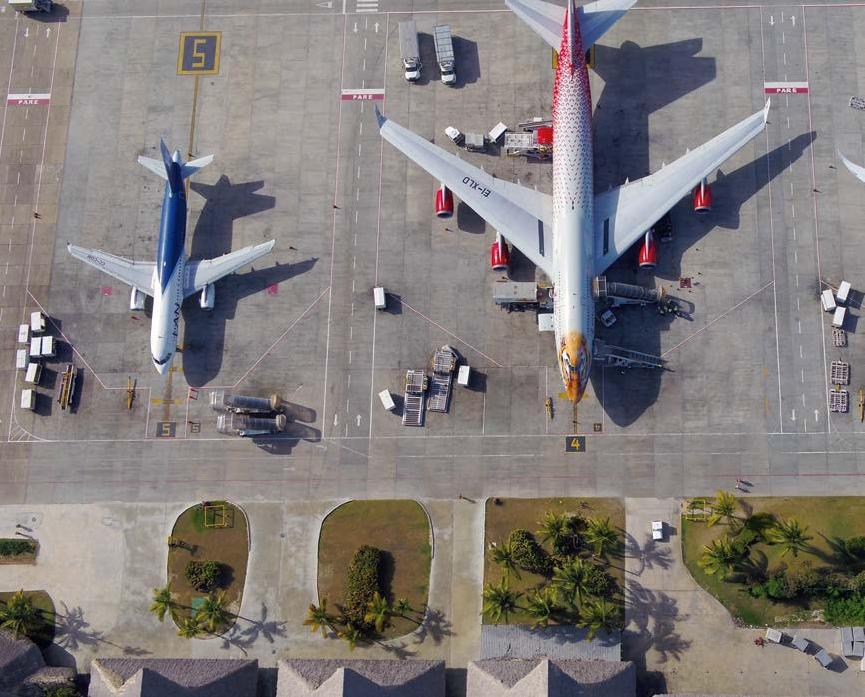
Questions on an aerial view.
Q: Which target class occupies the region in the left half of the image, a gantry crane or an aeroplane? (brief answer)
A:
aeroplane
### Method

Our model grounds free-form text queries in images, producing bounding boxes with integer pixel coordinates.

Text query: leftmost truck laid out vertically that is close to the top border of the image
[397,28,419,85]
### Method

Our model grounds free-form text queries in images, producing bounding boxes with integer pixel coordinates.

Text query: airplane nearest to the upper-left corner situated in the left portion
[66,137,274,373]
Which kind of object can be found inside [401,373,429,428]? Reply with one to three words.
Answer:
work vehicle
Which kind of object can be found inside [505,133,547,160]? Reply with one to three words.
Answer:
work vehicle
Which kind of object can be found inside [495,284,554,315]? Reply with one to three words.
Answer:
truck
